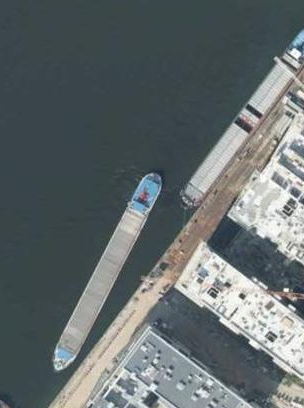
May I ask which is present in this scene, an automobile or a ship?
ship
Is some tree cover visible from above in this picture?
No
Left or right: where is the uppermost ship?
right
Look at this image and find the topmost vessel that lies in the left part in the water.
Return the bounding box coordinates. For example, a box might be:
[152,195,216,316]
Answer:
[56,171,159,371]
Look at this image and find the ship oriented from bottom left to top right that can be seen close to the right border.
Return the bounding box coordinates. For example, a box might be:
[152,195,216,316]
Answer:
[188,29,304,205]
